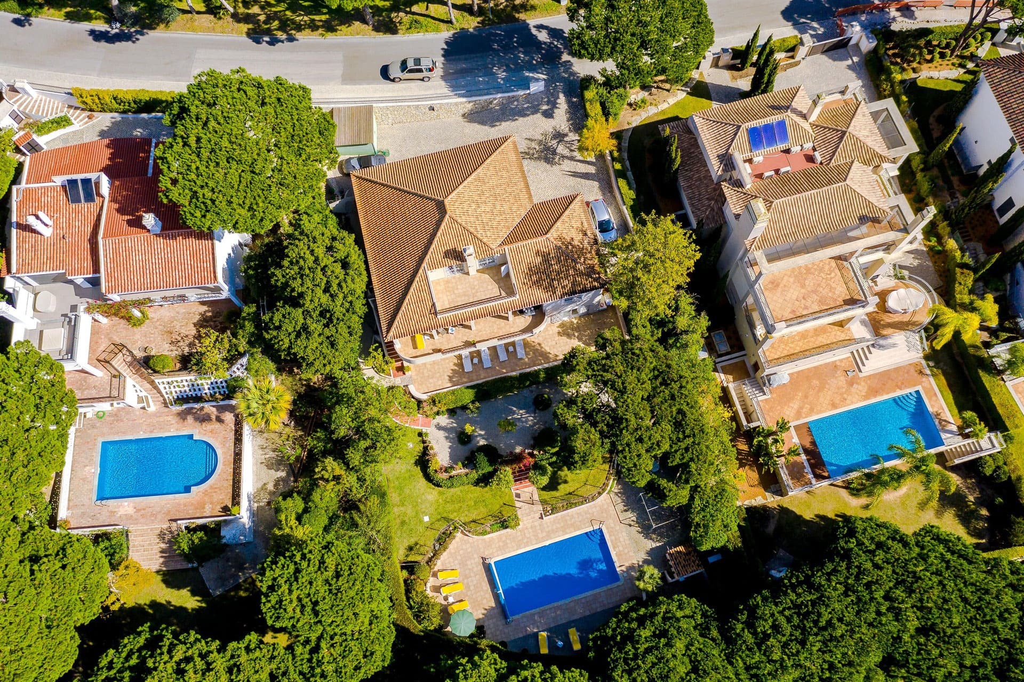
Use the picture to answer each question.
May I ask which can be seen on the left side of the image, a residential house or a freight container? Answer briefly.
residential house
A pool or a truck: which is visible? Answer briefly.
pool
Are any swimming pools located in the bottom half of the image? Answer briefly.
Yes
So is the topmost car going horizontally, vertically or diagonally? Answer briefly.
horizontally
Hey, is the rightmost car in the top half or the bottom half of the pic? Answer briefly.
top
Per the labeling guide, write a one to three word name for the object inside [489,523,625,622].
swimming pool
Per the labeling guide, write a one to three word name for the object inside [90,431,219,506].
swimming pool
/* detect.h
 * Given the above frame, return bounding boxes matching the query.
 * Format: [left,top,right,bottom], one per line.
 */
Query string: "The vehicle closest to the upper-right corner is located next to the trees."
[585,200,616,245]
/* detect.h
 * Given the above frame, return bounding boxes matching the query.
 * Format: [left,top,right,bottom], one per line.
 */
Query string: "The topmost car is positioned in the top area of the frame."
[387,57,437,82]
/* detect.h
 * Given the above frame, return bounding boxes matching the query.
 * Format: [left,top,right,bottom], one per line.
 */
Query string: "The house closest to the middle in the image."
[351,134,607,368]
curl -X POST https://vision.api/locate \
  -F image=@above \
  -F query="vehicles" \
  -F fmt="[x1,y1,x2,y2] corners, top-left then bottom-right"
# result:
[387,57,437,82]
[585,200,616,245]
[339,150,387,178]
